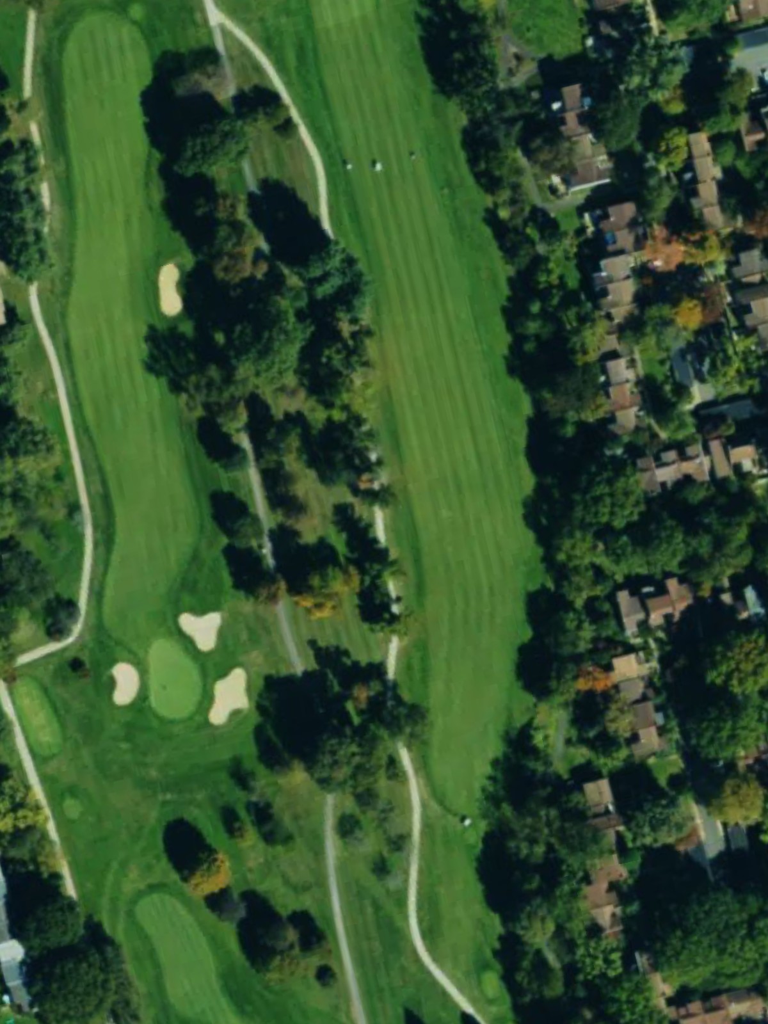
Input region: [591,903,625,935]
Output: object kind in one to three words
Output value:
house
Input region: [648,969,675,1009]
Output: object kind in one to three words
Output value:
house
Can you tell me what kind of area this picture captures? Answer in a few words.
golf course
